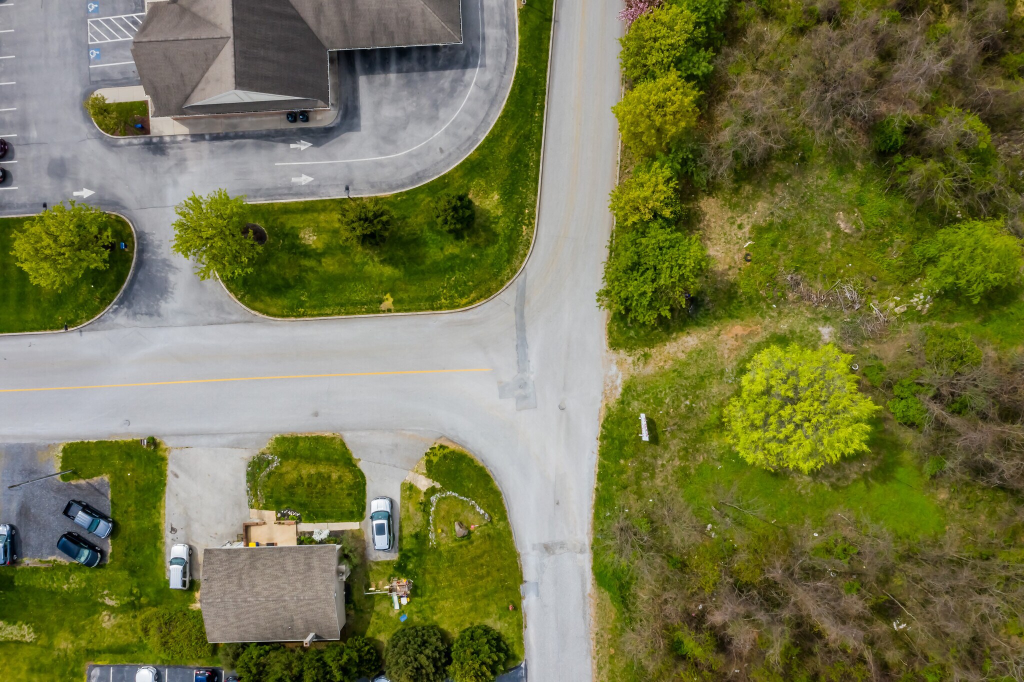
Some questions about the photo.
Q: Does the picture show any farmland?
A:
No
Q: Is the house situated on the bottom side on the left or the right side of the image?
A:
left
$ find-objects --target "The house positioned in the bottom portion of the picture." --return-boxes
[197,541,351,650]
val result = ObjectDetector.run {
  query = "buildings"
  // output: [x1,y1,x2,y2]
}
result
[127,0,462,121]
[197,541,351,650]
